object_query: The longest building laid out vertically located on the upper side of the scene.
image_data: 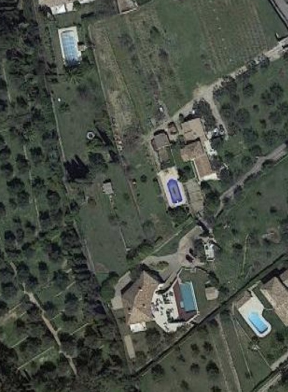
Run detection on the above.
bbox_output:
[181,119,213,181]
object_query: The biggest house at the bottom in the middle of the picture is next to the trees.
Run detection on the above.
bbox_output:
[122,271,160,326]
